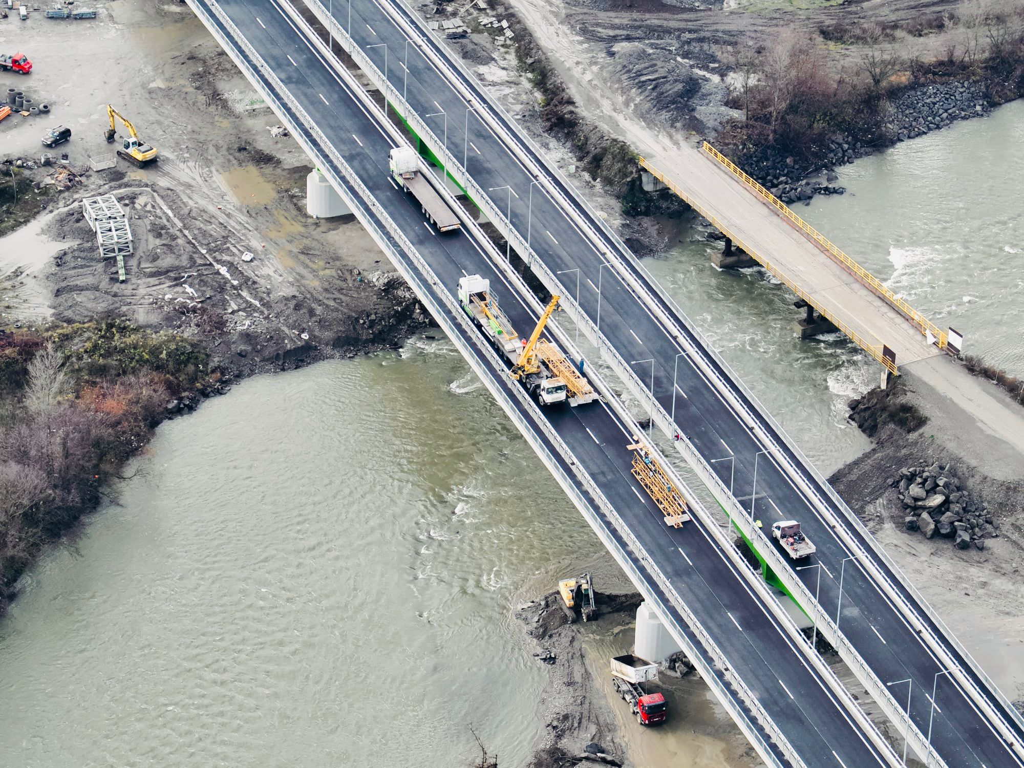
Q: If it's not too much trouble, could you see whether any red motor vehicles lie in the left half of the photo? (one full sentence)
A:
Yes, a red motor vehicle can be seen in the left half of the photo.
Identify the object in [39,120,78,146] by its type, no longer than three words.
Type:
car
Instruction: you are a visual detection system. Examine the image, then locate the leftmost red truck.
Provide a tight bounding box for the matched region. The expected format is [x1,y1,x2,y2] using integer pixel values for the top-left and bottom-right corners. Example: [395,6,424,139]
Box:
[0,51,36,74]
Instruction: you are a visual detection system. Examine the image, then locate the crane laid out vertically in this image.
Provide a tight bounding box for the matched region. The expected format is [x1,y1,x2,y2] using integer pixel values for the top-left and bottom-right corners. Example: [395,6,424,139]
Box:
[513,287,569,406]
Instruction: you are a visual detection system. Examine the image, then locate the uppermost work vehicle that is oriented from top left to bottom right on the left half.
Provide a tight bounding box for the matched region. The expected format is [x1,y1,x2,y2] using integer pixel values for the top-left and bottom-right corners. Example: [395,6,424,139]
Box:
[101,103,155,165]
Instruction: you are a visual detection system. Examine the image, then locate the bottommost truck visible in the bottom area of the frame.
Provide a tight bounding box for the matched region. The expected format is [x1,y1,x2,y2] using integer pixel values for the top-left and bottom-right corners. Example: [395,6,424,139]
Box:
[604,648,667,724]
